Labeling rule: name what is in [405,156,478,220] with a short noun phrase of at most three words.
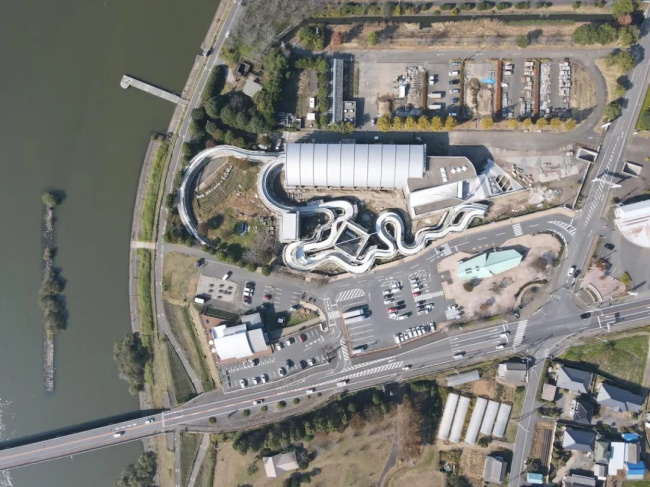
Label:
building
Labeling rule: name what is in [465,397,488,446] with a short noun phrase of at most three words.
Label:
greenhouse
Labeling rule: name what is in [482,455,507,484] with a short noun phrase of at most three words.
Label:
house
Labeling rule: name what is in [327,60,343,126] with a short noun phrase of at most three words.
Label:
shed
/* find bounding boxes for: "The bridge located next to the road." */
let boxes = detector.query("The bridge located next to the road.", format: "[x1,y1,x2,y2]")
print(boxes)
[0,411,163,469]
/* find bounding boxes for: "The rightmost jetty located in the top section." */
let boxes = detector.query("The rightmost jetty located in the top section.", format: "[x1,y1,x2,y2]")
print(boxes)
[121,75,187,105]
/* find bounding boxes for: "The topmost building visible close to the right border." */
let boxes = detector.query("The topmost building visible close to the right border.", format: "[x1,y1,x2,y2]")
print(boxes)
[607,196,650,247]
